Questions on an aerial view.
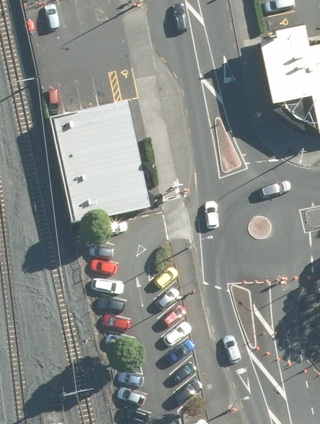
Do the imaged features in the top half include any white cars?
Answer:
Yes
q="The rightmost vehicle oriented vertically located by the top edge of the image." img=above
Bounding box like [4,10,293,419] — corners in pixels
[172,2,187,32]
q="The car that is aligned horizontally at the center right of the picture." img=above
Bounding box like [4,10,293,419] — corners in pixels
[262,179,292,196]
